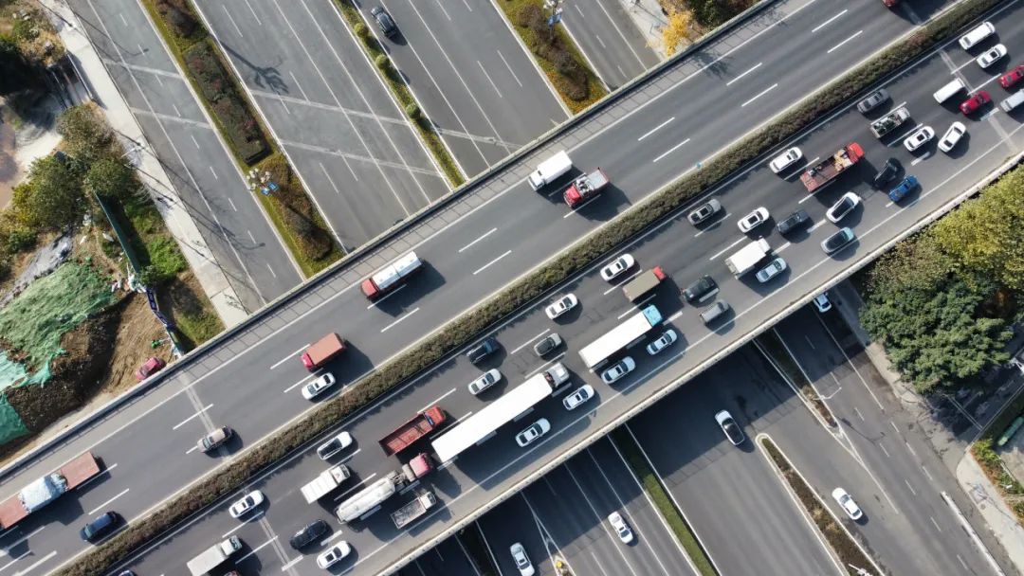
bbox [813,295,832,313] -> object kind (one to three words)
car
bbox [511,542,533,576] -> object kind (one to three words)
car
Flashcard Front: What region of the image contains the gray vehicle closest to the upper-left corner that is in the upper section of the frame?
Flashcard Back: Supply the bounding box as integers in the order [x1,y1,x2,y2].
[372,7,394,37]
